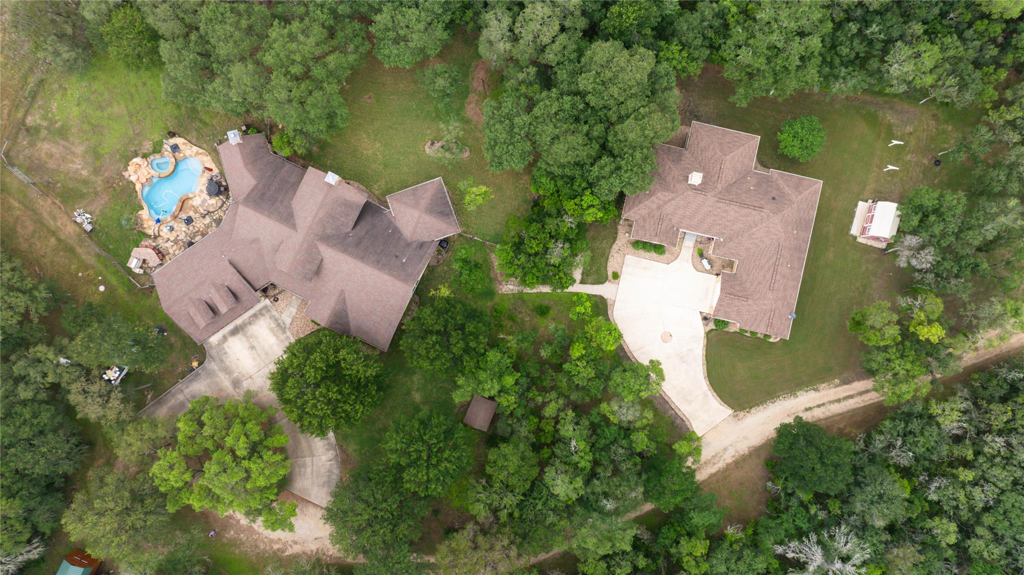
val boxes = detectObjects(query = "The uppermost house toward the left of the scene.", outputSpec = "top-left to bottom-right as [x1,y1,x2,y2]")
[152,129,461,352]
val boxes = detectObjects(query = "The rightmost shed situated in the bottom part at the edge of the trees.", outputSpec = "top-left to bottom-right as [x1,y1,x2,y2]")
[463,396,494,434]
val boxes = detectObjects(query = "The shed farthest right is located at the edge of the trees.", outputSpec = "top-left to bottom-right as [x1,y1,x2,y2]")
[851,200,903,243]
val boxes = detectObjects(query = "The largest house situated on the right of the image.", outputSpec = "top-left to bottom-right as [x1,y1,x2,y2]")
[621,121,823,340]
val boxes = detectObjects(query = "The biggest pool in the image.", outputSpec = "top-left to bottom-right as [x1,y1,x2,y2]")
[137,156,202,223]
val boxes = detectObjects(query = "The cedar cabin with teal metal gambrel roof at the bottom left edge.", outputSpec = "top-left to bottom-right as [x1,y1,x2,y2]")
[58,546,115,575]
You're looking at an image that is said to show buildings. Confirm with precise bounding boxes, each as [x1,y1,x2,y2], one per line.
[621,121,823,340]
[851,200,903,243]
[152,129,461,352]
[463,396,494,434]
[58,546,115,575]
